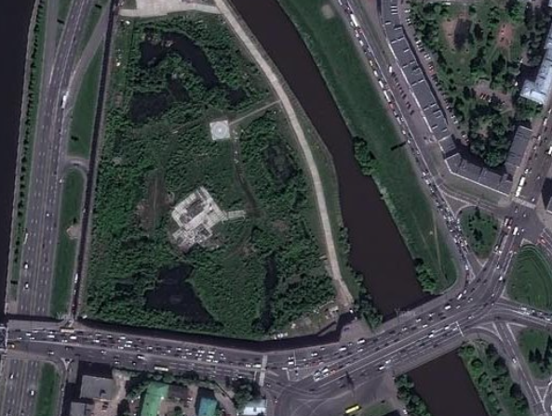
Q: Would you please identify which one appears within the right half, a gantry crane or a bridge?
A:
bridge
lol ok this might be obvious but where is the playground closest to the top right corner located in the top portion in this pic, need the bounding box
[496,20,515,48]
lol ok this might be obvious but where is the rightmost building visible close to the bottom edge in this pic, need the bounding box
[243,400,266,416]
